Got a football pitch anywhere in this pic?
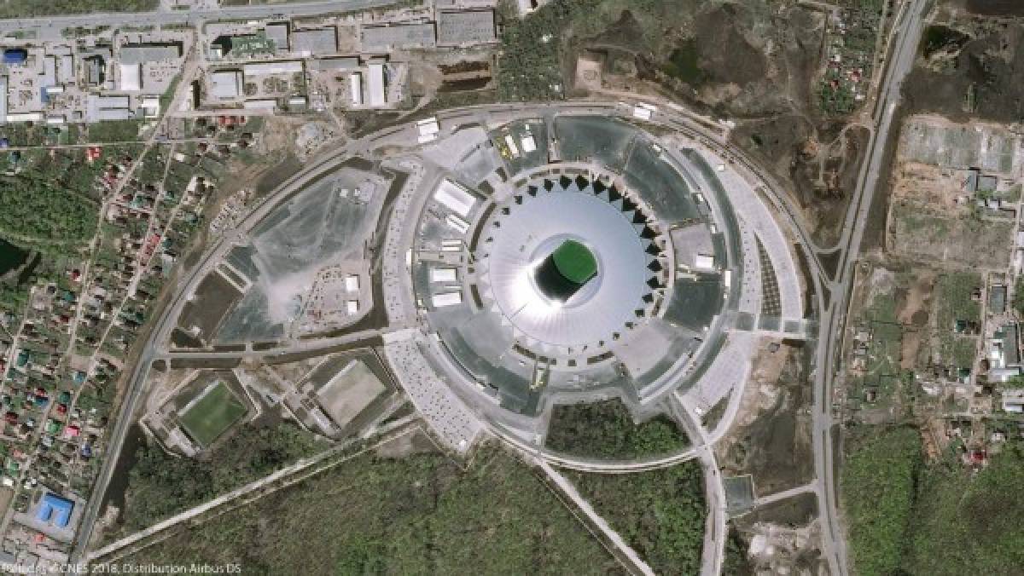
Yes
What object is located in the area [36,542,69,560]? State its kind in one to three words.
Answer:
shed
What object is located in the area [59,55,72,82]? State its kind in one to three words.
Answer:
building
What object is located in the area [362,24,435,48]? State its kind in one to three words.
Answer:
building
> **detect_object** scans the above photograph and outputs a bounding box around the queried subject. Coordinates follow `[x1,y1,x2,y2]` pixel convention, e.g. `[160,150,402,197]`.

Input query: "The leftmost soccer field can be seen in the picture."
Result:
[177,377,244,443]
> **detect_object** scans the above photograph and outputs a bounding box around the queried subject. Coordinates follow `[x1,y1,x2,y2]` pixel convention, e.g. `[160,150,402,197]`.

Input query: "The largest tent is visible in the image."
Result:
[435,178,475,214]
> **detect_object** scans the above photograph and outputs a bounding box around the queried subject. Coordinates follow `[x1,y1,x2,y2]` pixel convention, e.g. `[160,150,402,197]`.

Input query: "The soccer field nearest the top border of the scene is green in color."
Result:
[537,238,598,299]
